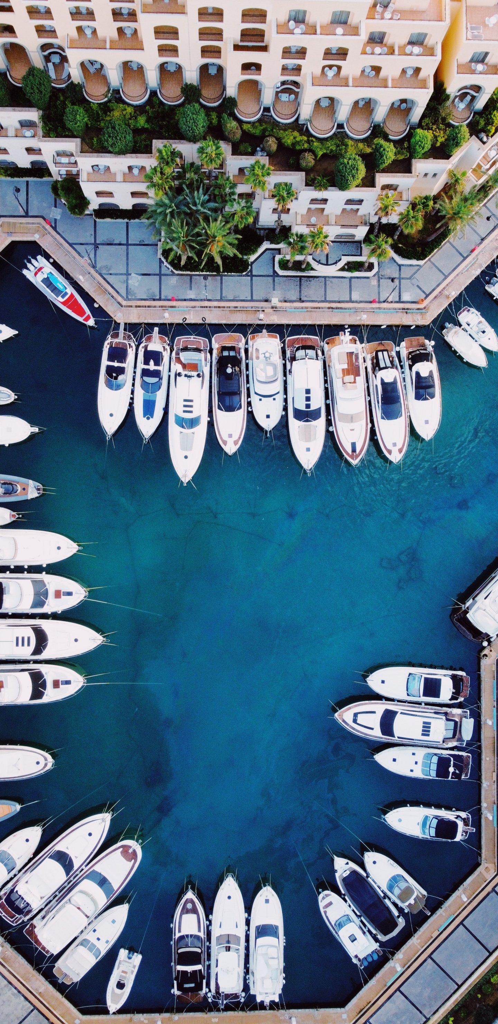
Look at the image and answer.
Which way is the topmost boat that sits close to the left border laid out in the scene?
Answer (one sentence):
The topmost boat that sits close to the left border is laid out diagonally.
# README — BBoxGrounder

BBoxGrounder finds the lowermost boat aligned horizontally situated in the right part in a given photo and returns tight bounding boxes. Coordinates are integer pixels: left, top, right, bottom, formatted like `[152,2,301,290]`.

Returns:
[381,803,476,842]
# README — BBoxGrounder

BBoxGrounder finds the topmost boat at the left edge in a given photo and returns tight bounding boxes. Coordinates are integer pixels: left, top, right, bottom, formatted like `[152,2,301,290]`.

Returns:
[19,251,97,327]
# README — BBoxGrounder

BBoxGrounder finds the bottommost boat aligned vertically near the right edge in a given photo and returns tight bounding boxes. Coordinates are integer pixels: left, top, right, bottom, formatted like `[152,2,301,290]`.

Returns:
[463,709,476,747]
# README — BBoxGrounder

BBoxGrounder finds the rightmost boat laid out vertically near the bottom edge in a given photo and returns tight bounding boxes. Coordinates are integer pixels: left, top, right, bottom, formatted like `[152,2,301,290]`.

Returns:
[250,882,285,1008]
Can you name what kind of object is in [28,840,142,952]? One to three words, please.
boat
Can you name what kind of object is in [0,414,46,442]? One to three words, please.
boat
